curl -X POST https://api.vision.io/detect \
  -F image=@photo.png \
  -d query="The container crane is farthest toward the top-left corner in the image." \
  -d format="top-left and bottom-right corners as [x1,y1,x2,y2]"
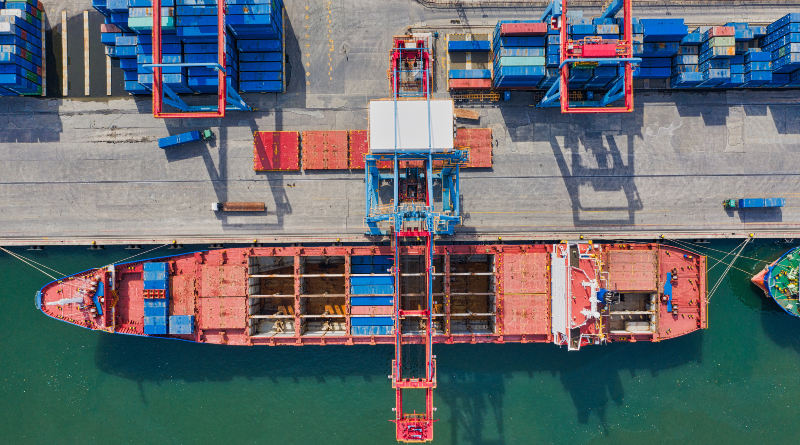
[141,0,261,119]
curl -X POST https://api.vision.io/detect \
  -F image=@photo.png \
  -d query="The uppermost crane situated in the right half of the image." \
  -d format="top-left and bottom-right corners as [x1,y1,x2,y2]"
[529,0,644,114]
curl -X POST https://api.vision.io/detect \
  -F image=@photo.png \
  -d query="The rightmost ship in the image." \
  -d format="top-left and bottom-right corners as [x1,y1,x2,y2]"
[750,244,800,319]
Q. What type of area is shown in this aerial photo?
port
